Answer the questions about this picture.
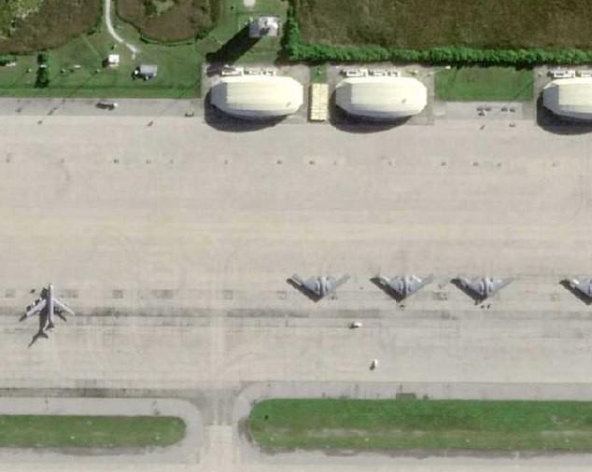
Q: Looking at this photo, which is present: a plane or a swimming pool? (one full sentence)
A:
It is a plane that can be seen here.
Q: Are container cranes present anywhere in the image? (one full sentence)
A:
No, no container crane is visible in the scene.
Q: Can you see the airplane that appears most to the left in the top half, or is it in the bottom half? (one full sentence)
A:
The airplane that appears most to the left sits in the bottom half of the picture.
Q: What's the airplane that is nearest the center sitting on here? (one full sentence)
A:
It looks like the airplane that is nearest the center is sitting on the apron.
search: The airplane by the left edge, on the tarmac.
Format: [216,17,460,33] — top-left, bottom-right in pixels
[28,285,75,333]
